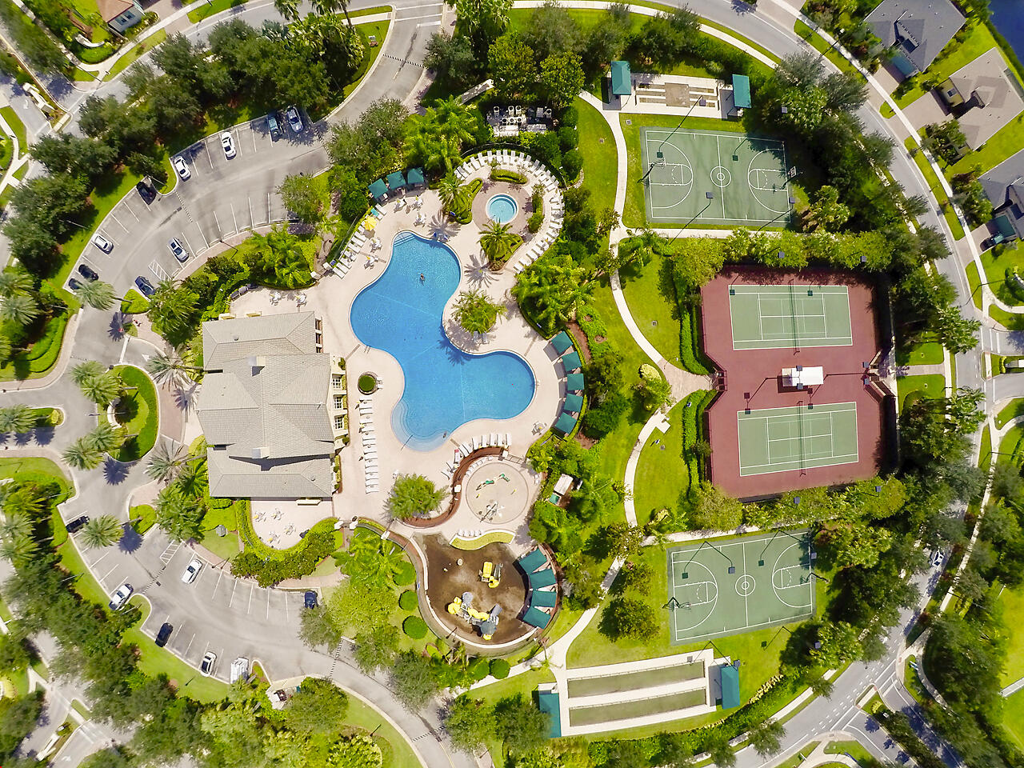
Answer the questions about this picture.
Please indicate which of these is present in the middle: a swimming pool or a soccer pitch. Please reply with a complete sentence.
What appears in the middle is a swimming pool.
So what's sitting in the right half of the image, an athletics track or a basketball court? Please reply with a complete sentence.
Looking in the right half of the image, you will find a basketball court.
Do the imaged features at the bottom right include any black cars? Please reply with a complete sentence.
No, the scene shows no black car at the bottom right.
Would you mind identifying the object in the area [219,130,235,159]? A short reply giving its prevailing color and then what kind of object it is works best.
white car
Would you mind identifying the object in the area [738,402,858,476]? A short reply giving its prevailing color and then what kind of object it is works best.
green tennis court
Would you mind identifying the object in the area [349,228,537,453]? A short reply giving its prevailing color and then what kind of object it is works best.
blue swimming pool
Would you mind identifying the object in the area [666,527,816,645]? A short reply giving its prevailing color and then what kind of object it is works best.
green basketball court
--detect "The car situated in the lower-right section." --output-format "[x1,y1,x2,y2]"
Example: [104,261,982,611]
[930,545,949,572]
